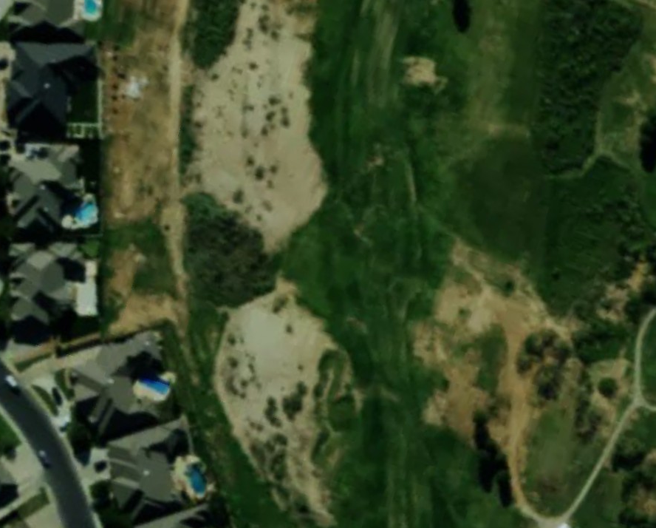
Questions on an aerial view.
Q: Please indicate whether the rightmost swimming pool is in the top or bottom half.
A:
bottom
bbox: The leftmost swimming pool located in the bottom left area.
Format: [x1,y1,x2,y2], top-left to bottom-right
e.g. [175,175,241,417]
[139,371,176,399]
